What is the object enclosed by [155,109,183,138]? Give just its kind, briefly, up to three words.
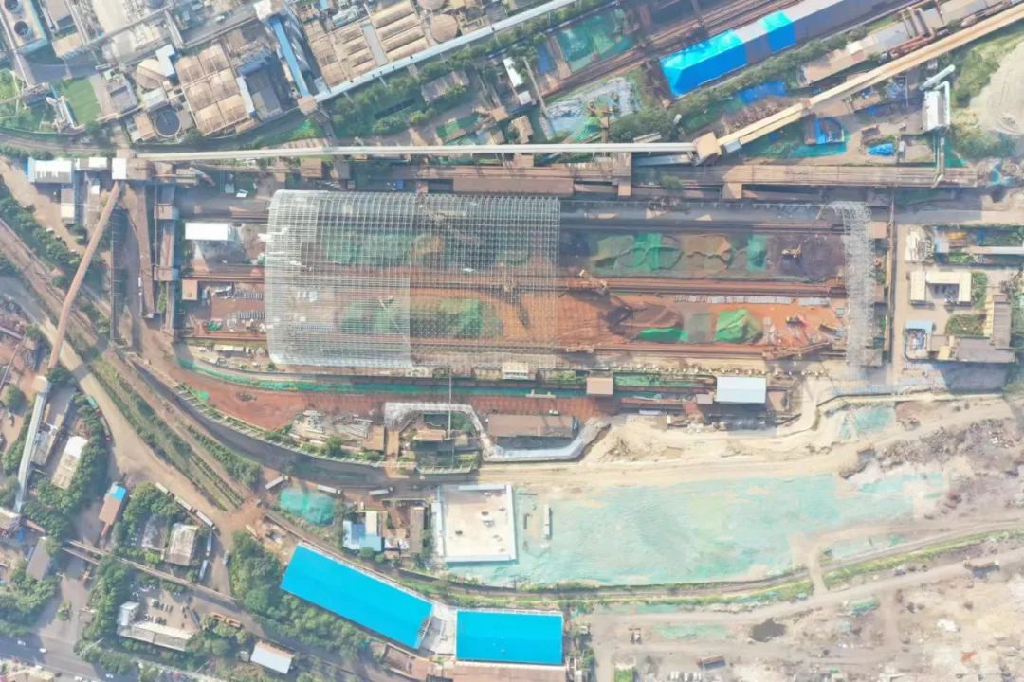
storage tank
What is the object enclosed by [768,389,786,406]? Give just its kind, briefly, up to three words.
shed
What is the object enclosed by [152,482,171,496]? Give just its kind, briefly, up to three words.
vehicle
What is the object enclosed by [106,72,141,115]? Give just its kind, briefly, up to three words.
building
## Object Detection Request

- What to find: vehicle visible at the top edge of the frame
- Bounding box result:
[209,10,227,22]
